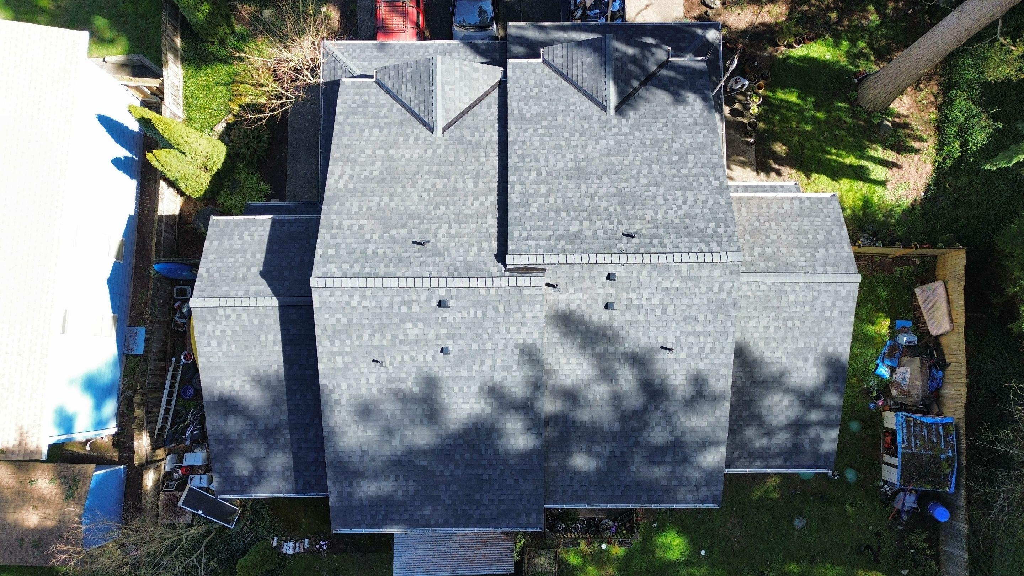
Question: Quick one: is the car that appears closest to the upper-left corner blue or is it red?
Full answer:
The car that appears closest to the upper-left corner looks red in the image.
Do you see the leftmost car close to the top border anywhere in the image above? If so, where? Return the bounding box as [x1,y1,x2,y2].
[377,0,424,39]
